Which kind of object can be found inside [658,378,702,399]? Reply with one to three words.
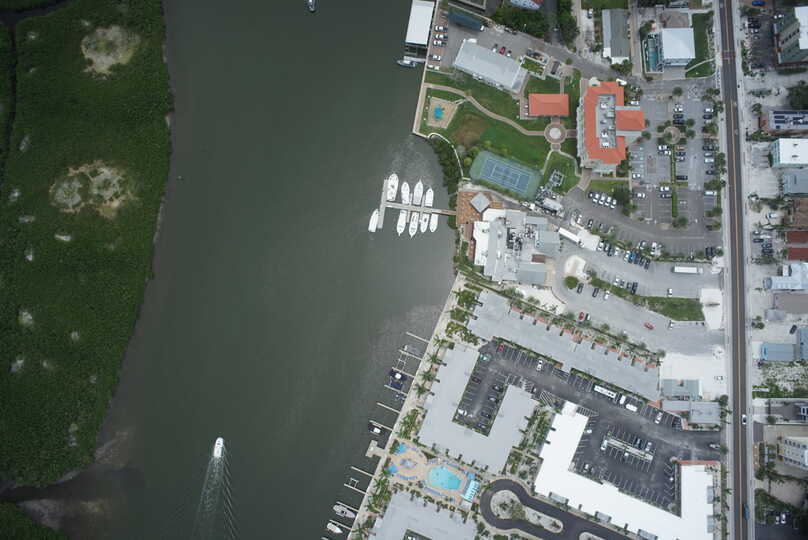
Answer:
building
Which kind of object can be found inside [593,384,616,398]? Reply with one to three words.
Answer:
vehicle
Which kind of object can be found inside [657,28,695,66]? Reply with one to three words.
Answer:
house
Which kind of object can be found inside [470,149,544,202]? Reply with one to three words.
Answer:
tennis court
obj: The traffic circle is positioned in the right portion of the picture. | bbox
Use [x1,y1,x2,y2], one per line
[477,478,529,529]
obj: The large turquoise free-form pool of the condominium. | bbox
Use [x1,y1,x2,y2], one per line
[427,463,462,491]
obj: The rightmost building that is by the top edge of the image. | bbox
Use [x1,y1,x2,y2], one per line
[763,6,808,69]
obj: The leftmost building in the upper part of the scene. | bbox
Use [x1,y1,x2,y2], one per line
[404,0,434,62]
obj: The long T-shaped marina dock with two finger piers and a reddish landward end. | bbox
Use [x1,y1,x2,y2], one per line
[377,179,451,228]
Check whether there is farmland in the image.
No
